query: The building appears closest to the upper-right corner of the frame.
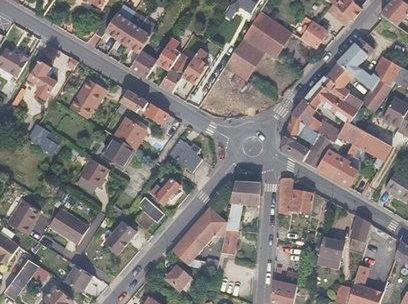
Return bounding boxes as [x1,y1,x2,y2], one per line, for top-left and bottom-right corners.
[382,0,408,26]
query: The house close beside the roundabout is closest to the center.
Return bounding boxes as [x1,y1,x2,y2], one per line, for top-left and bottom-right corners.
[170,140,204,172]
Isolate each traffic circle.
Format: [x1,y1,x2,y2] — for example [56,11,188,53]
[205,110,292,185]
